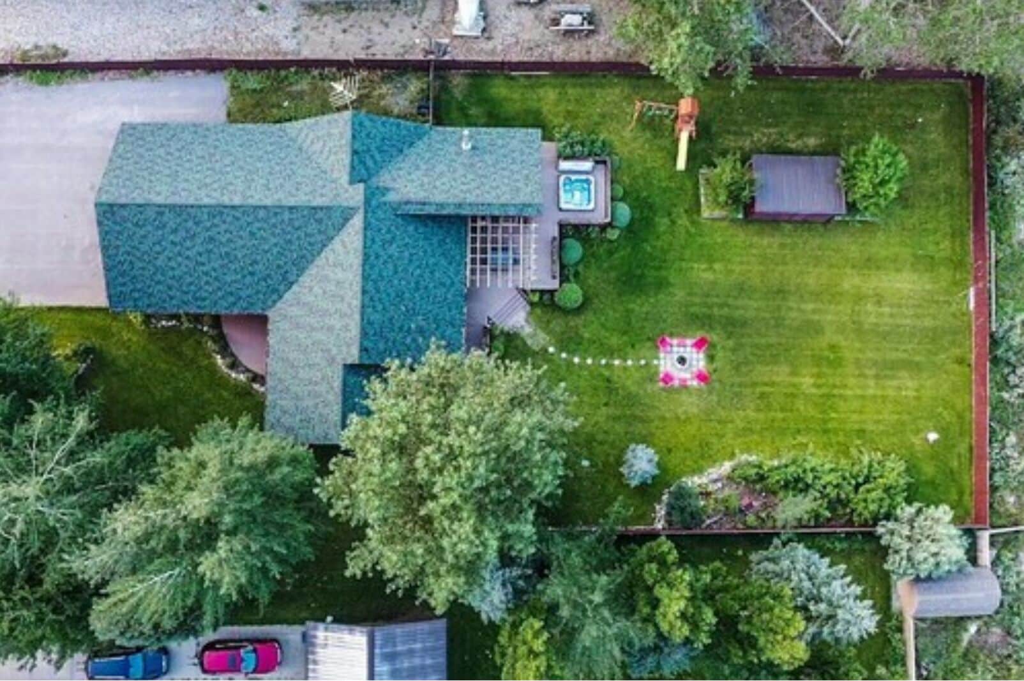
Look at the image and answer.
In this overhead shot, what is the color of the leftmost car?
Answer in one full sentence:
In this view, the leftmost car is blue.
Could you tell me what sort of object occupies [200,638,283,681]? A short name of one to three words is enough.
car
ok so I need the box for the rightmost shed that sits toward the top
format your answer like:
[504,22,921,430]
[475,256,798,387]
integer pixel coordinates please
[744,155,848,221]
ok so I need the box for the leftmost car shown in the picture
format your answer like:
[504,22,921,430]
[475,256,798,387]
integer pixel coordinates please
[86,644,171,681]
